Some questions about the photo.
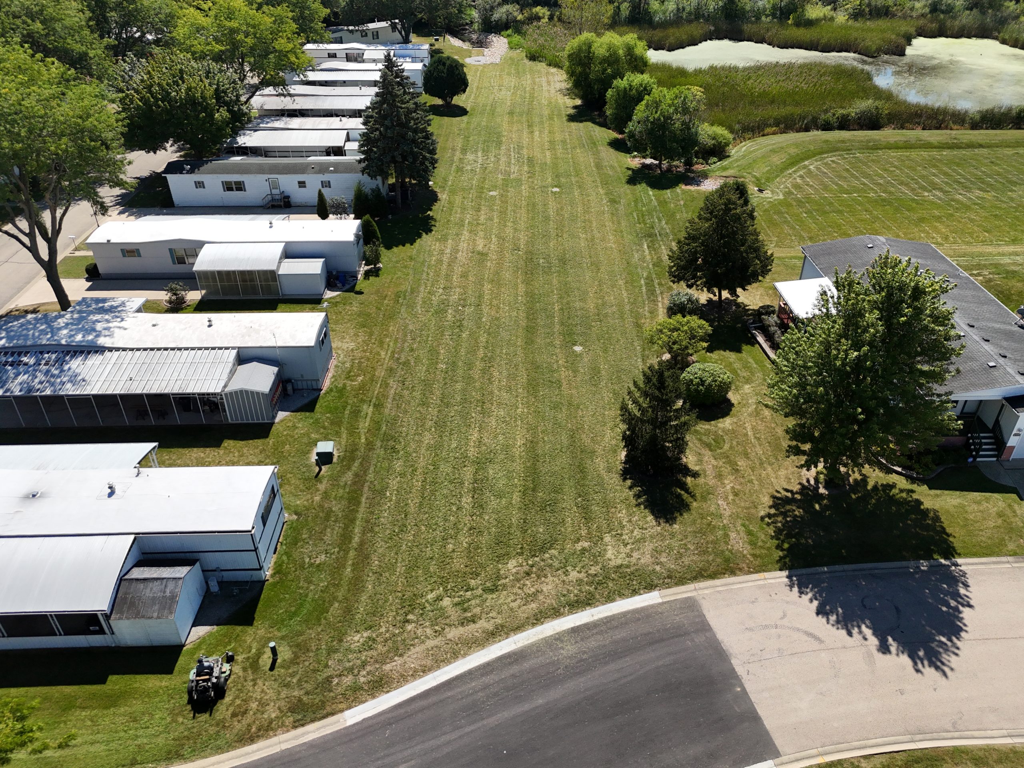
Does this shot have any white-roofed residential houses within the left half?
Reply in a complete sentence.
Yes, within the left half there is a white-roofed residential house.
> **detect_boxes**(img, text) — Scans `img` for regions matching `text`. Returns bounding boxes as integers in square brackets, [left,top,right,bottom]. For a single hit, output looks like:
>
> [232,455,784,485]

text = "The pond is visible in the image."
[641,40,1024,118]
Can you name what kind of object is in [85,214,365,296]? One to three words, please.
house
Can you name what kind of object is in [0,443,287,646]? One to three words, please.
house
